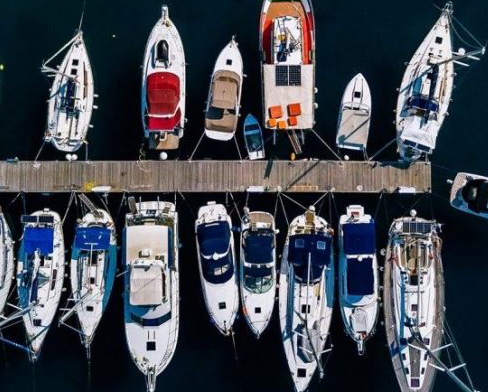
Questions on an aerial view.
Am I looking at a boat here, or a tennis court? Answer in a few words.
boat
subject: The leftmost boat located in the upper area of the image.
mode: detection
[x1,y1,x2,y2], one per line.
[38,33,98,151]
